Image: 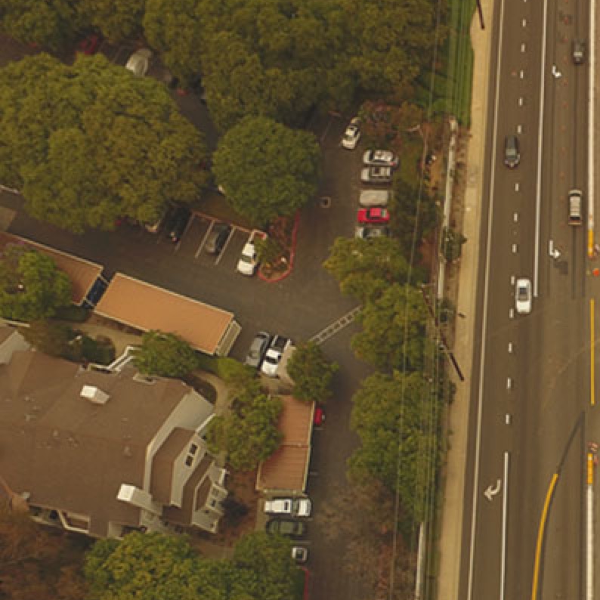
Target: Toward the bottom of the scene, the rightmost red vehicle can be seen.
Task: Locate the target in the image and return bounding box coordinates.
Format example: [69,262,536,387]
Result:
[309,410,325,424]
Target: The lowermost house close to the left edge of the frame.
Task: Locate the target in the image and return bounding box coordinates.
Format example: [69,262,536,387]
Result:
[0,343,228,541]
